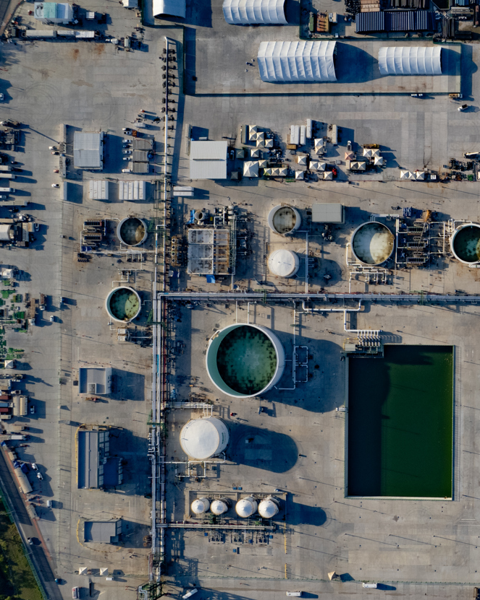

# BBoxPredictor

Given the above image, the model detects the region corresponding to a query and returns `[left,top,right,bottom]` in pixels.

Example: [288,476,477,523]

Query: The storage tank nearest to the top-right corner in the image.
[451,223,480,264]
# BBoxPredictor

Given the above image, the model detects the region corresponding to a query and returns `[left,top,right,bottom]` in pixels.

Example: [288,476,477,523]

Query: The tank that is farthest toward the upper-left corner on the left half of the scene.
[117,216,152,246]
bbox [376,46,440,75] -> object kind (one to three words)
hangar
